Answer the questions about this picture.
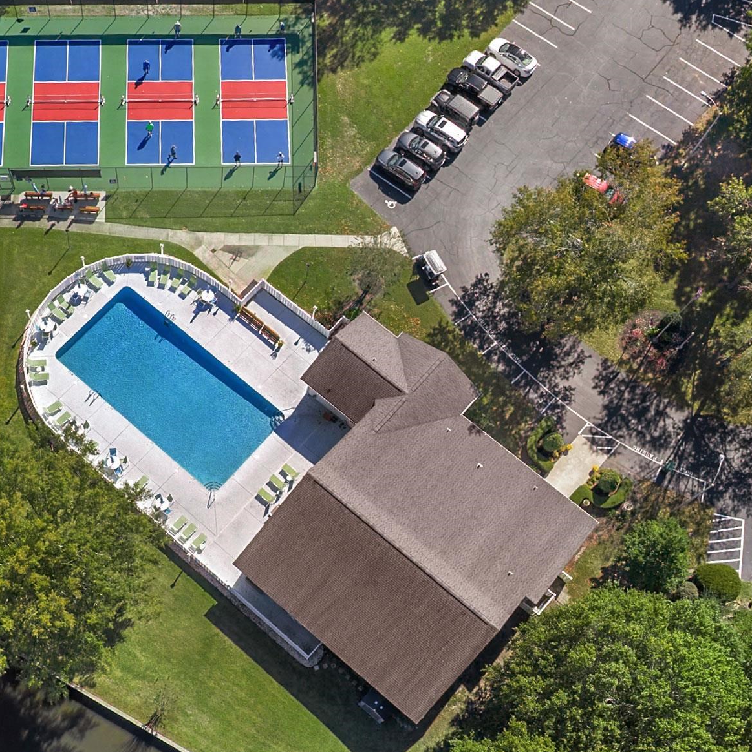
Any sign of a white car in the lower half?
No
